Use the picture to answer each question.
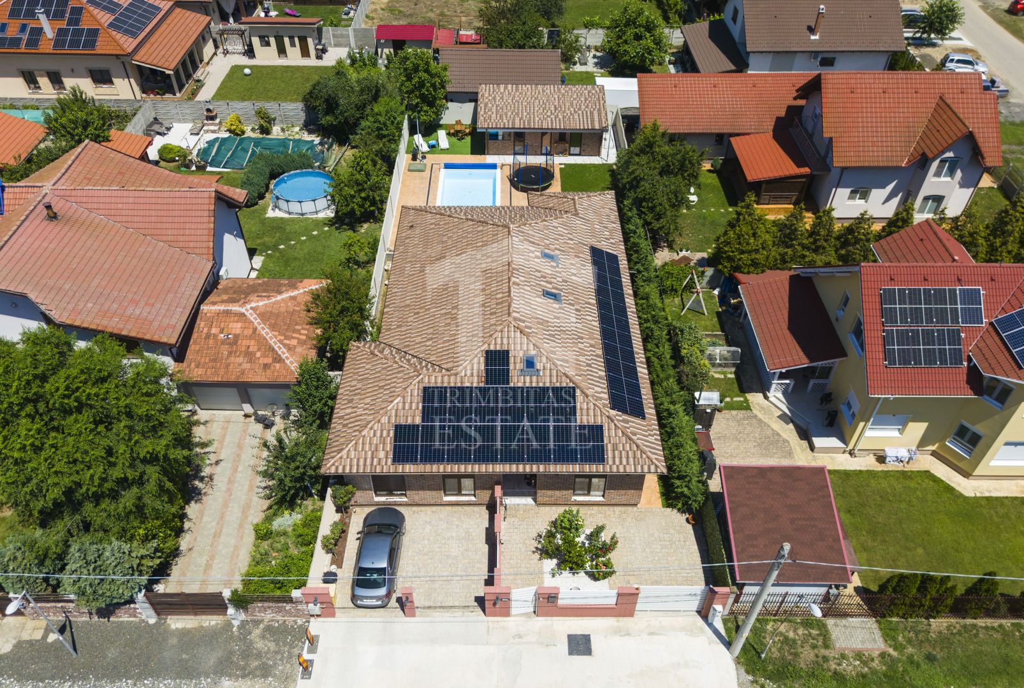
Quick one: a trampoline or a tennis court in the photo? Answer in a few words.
trampoline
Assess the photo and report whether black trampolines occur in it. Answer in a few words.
Yes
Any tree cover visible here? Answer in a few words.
Yes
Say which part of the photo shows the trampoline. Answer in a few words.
top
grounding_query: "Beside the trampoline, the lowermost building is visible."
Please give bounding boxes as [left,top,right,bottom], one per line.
[319,189,669,514]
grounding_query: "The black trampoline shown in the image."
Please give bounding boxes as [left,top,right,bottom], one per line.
[509,140,554,190]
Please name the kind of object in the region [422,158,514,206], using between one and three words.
swimming pool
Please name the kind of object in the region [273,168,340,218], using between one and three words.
swimming pool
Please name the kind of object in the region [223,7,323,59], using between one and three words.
shed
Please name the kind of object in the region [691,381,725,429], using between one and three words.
shed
